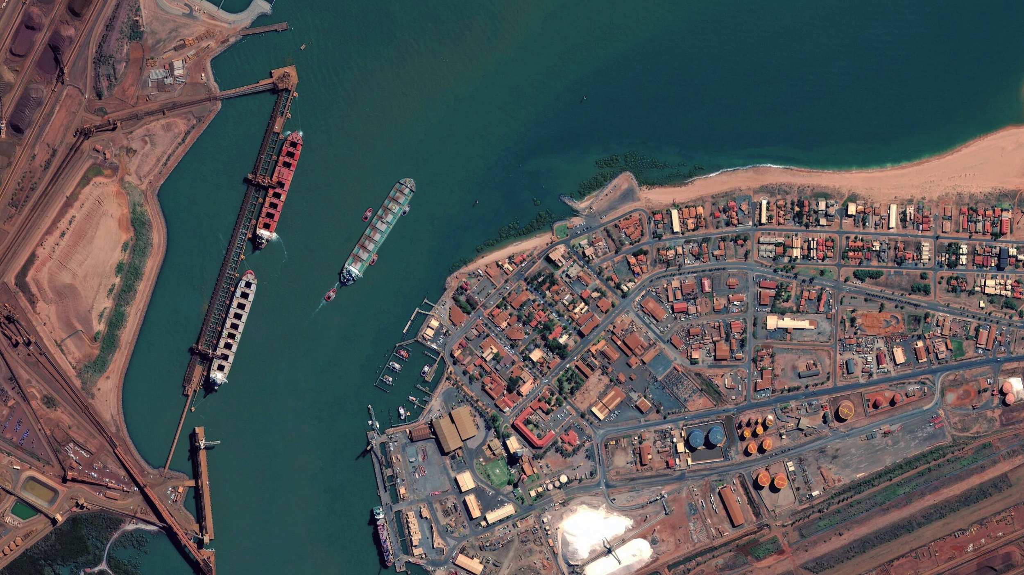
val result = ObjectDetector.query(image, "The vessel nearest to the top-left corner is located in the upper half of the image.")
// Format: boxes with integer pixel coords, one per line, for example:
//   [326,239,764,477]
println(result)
[252,130,303,252]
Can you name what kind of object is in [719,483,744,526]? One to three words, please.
building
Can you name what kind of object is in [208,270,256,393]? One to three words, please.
ship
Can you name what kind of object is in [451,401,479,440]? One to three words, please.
shed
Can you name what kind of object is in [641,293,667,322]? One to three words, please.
building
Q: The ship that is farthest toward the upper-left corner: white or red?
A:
red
